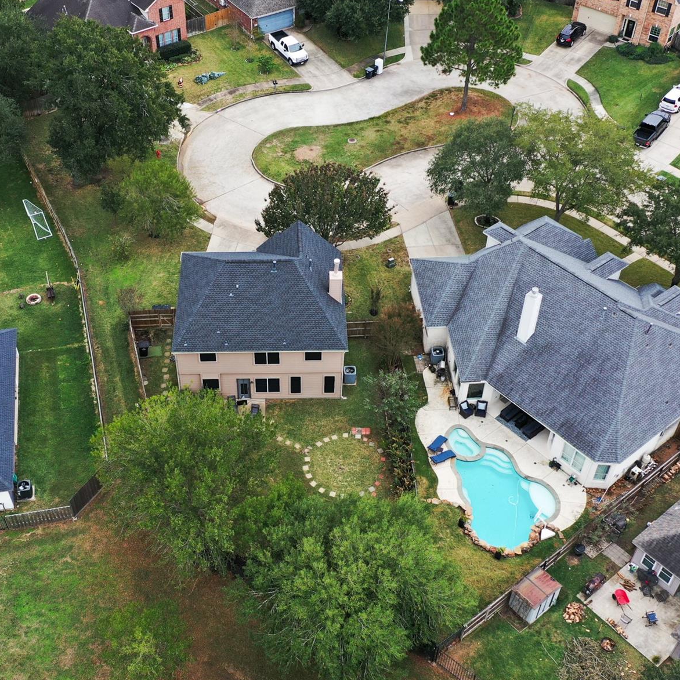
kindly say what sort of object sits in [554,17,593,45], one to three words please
car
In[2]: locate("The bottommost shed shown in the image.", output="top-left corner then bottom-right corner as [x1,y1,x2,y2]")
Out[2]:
[508,569,562,623]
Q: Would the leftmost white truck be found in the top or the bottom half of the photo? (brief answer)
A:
top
